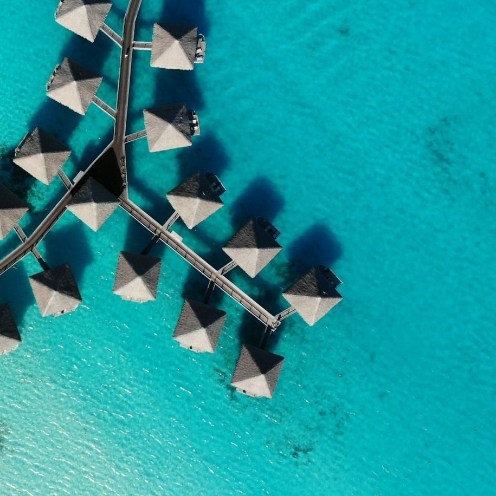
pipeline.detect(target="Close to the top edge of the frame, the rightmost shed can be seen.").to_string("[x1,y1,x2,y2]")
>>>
[149,21,206,72]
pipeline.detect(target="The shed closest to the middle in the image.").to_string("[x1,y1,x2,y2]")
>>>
[222,216,284,278]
